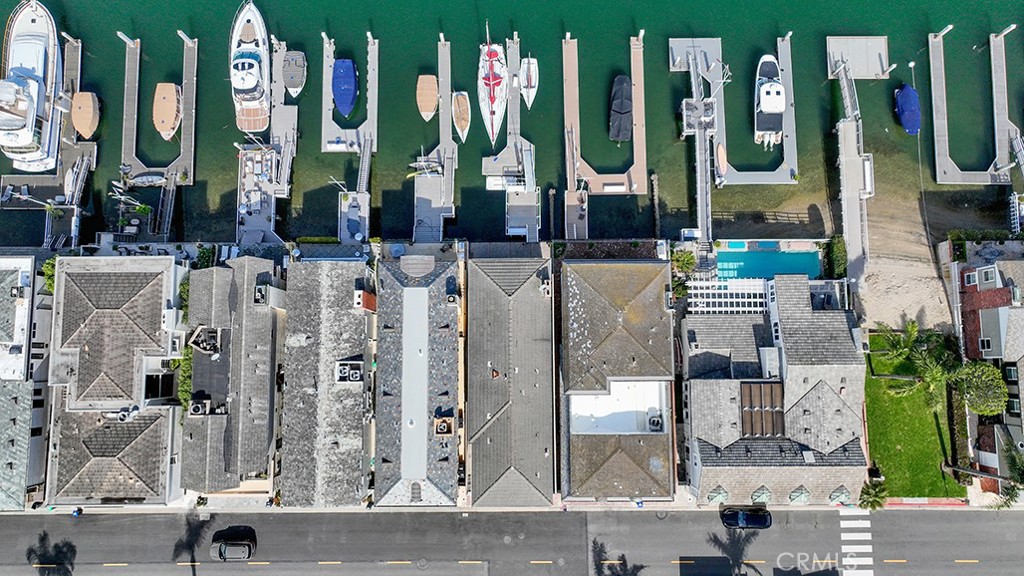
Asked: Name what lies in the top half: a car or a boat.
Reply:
boat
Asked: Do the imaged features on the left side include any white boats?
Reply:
Yes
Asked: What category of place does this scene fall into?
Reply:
residential area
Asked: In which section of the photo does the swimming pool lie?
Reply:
right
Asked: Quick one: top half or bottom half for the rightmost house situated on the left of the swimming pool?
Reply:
bottom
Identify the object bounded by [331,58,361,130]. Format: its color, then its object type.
blue boat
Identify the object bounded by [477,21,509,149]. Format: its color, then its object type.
white boat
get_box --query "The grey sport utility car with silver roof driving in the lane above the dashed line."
[211,539,257,564]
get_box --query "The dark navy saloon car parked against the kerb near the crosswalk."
[718,506,771,531]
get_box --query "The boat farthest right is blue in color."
[890,81,922,137]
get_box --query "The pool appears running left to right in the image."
[679,236,835,283]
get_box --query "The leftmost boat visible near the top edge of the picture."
[0,0,69,172]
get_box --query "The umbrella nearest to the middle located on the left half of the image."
[388,242,404,257]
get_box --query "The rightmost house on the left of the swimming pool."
[562,259,676,501]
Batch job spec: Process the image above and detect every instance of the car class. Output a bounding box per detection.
[211,539,257,564]
[718,506,771,531]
